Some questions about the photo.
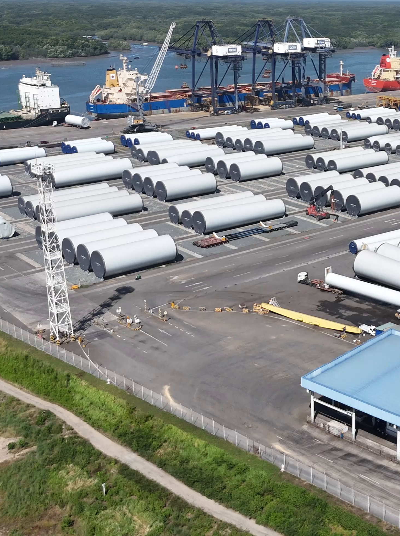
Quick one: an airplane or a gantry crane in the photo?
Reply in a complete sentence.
I can see a gantry crane in this picture.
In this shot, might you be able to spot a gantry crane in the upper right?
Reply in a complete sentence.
Yes, a gantry crane shows up in the upper right.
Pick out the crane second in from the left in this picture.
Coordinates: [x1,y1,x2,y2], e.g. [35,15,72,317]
[155,15,252,115]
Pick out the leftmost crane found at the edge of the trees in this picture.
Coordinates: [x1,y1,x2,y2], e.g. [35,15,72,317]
[123,22,174,131]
